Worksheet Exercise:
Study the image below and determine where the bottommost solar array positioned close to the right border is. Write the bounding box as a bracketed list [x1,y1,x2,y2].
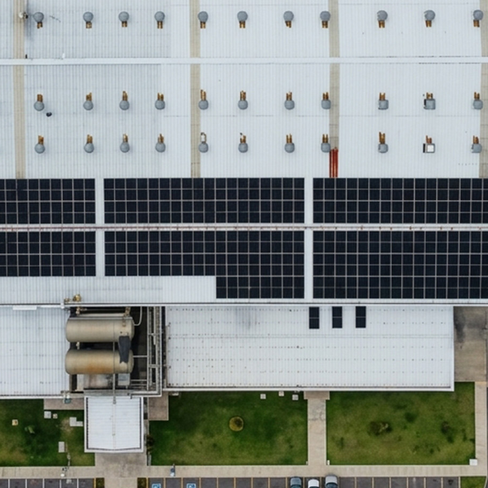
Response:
[313,231,488,299]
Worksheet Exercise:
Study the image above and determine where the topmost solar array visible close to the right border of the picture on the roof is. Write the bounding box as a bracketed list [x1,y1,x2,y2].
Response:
[313,178,488,223]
